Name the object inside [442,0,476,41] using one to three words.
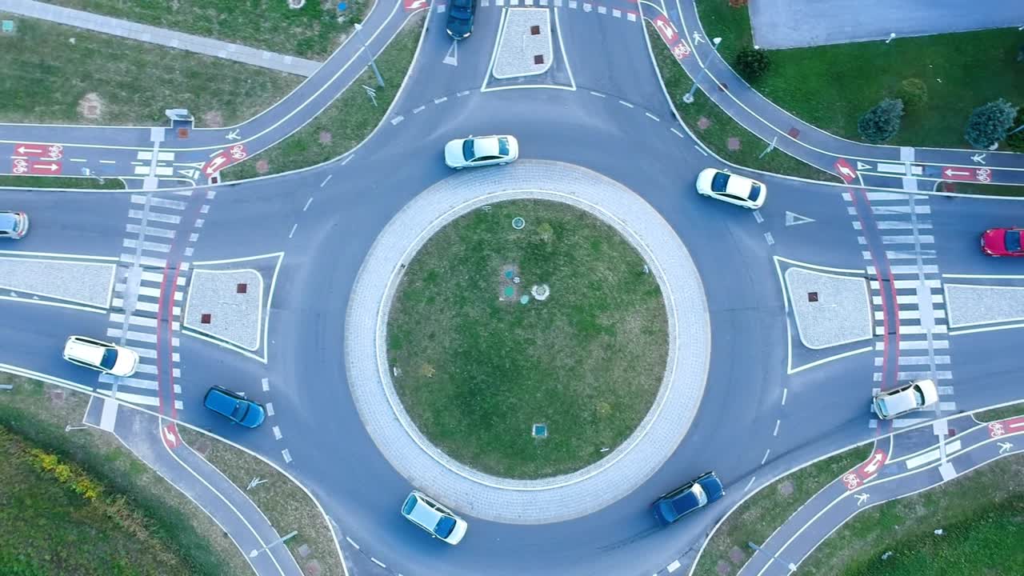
car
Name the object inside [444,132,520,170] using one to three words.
car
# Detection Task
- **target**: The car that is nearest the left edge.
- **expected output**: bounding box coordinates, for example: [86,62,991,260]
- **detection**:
[0,210,29,242]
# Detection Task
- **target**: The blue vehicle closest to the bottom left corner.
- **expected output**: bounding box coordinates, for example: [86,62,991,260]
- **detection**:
[203,384,265,427]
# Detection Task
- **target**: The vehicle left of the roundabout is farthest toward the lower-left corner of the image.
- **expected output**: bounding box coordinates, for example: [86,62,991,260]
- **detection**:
[60,335,143,376]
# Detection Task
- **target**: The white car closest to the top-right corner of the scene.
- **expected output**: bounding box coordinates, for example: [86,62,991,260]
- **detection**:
[693,167,767,213]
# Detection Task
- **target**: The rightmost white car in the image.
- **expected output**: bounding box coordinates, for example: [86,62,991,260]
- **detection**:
[870,378,937,419]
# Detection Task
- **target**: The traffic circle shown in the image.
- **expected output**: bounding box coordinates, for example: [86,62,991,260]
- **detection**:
[268,82,787,576]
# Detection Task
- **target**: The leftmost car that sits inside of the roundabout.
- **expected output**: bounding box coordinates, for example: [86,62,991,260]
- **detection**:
[403,492,466,542]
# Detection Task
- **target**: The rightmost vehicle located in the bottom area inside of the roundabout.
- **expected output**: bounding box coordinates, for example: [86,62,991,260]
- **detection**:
[649,472,723,525]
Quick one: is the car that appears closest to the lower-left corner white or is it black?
white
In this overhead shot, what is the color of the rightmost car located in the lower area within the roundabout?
blue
